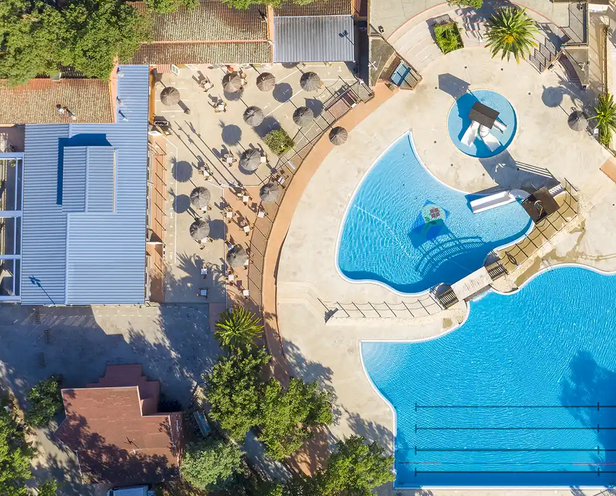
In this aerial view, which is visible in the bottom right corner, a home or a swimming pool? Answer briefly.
swimming pool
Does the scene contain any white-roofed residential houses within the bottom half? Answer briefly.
No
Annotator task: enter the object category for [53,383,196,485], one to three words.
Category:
house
